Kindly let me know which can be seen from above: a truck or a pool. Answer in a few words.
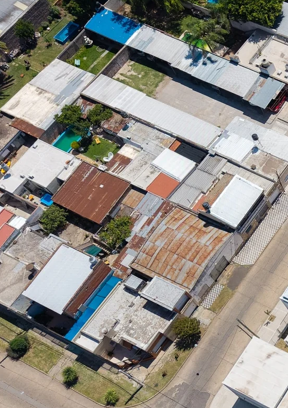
pool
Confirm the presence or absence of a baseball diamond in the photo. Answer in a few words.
No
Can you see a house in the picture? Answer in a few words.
Yes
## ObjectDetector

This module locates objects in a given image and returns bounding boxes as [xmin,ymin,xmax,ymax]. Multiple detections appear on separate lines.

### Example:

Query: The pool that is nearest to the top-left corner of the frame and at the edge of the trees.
[54,21,82,47]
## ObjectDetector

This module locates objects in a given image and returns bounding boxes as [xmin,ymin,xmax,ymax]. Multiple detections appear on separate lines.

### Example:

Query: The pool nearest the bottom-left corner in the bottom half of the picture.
[82,244,104,257]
